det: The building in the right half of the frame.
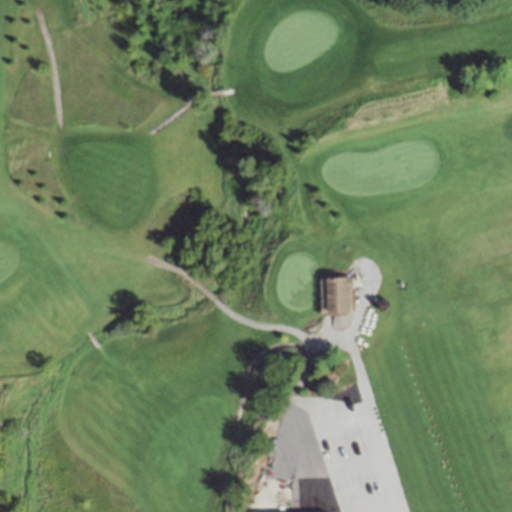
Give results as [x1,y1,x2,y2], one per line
[320,278,354,328]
